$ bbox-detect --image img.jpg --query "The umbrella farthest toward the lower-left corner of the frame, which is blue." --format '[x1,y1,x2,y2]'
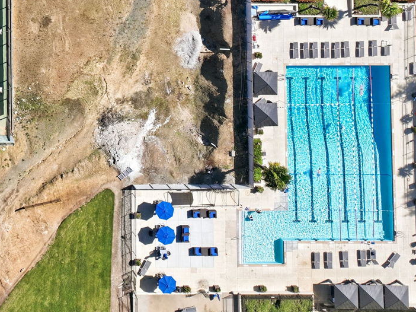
[156,273,177,294]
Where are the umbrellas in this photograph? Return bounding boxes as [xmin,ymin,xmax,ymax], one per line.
[155,224,175,244]
[154,199,174,219]
[156,273,177,294]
